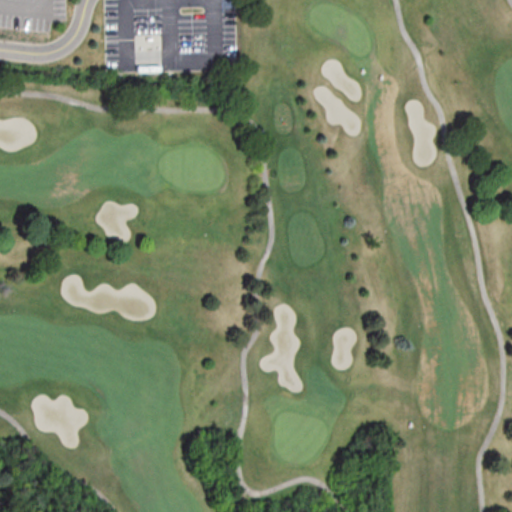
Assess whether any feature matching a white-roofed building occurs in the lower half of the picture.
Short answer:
No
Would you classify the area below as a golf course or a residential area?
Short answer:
golf course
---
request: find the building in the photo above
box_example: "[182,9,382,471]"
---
[134,35,163,74]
